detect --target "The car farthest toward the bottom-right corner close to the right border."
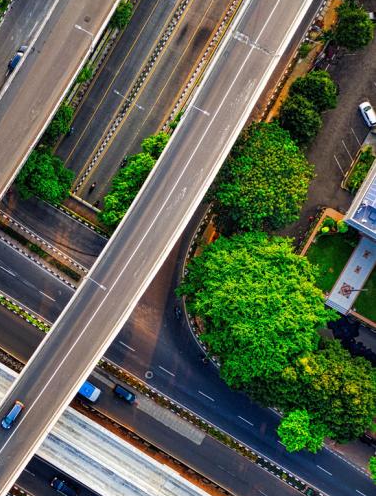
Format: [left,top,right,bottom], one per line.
[355,430,376,451]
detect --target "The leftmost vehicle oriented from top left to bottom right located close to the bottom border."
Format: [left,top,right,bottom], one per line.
[49,475,79,496]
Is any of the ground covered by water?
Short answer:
No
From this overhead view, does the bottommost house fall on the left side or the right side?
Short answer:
right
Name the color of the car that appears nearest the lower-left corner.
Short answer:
black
